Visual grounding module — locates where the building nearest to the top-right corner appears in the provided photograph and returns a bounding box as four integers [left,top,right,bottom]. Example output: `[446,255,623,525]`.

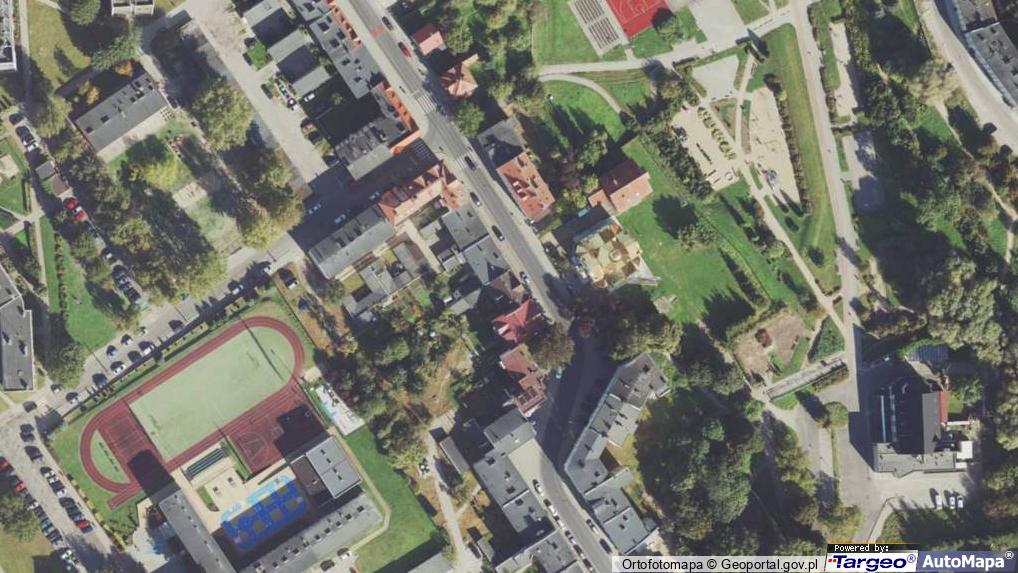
[947,0,999,34]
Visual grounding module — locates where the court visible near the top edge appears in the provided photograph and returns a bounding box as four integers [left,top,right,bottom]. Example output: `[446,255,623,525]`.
[604,0,682,40]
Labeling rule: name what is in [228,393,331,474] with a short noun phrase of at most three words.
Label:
basketball court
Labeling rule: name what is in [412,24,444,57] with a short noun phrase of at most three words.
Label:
house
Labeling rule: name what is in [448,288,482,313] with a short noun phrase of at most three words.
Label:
shed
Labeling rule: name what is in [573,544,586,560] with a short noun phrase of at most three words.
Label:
vehicle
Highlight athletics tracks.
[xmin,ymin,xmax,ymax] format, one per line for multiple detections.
[79,316,311,509]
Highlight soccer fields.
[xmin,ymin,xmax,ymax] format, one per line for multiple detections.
[90,327,295,481]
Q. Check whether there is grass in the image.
Yes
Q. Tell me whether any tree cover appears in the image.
Yes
